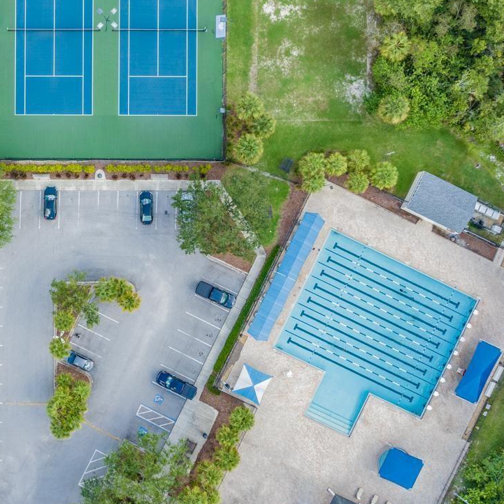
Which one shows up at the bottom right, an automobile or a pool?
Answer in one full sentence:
The feature located at the bottom right is a pool.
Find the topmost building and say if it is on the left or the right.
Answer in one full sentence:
The topmost building is on the right side of the image.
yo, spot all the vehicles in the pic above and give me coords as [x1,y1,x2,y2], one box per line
[43,185,58,219]
[64,350,96,373]
[156,372,199,401]
[139,191,155,225]
[195,280,238,309]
